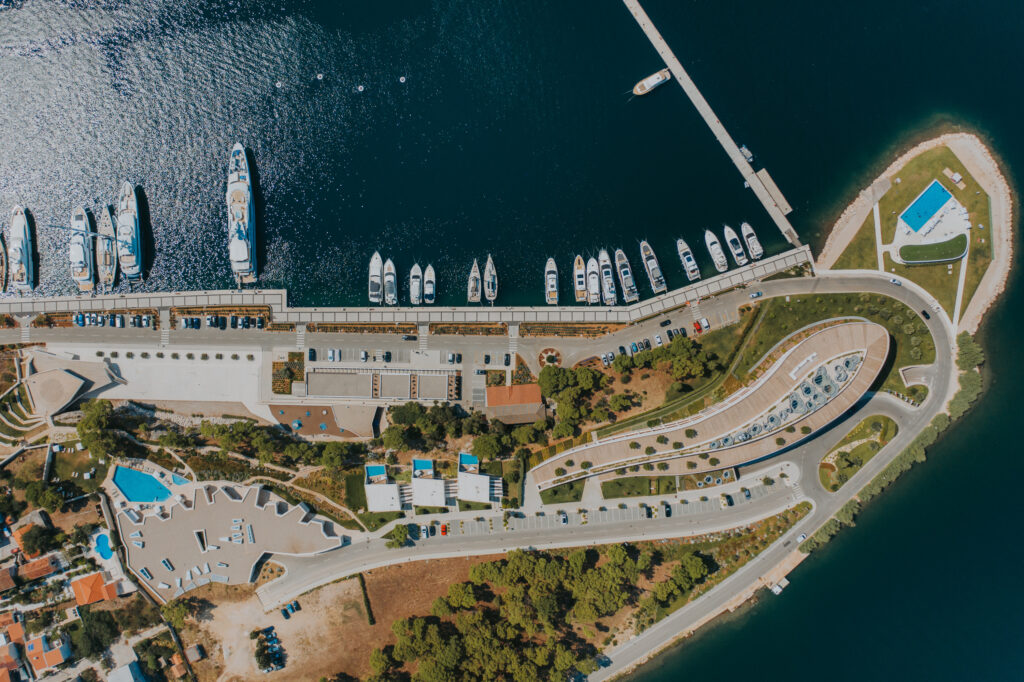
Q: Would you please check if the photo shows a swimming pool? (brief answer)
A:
Yes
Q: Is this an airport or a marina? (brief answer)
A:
marina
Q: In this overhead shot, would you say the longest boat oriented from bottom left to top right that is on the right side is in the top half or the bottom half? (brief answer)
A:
top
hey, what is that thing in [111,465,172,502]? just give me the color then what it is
blue swimming pool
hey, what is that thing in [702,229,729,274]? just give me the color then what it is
white boat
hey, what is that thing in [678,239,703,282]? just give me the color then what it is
white boat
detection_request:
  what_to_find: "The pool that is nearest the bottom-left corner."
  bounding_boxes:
[93,534,113,560]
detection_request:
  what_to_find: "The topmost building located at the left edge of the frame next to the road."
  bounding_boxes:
[26,351,127,418]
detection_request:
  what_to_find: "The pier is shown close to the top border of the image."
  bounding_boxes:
[622,0,799,242]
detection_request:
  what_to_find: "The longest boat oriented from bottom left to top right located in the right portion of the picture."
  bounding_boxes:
[627,68,674,104]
